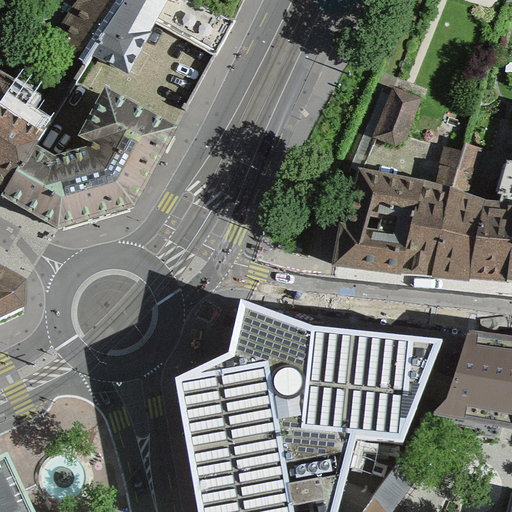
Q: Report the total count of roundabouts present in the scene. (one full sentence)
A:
The picture shows just 1 roundabout.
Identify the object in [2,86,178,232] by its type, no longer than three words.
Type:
building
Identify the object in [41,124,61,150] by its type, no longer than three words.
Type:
vehicle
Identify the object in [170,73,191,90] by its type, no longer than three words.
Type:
car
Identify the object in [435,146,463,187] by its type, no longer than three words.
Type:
shed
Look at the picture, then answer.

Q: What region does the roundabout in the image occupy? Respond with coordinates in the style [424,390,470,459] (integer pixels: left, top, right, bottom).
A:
[44,242,186,383]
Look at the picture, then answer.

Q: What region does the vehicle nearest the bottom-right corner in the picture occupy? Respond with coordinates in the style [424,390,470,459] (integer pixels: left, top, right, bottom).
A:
[414,277,442,290]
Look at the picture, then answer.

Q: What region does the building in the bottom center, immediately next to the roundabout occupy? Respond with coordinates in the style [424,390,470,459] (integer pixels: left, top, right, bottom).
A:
[176,298,442,512]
